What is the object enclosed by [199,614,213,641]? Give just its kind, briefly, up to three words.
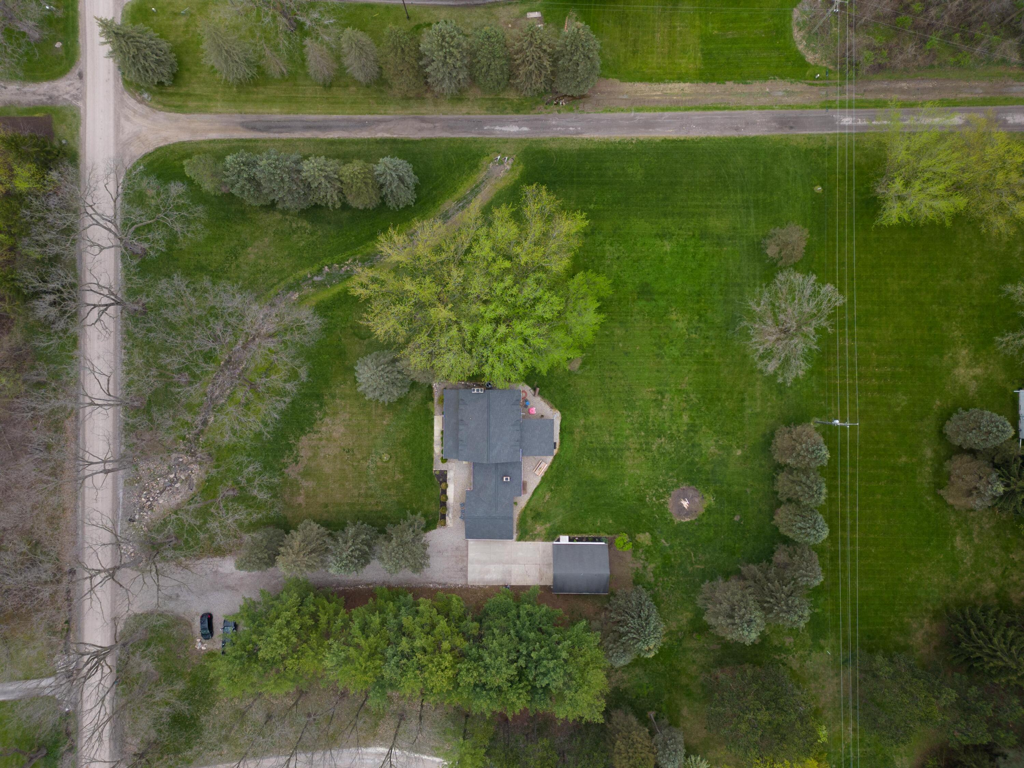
car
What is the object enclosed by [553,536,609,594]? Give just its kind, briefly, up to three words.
shed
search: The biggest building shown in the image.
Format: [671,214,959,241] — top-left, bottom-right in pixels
[443,388,554,540]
